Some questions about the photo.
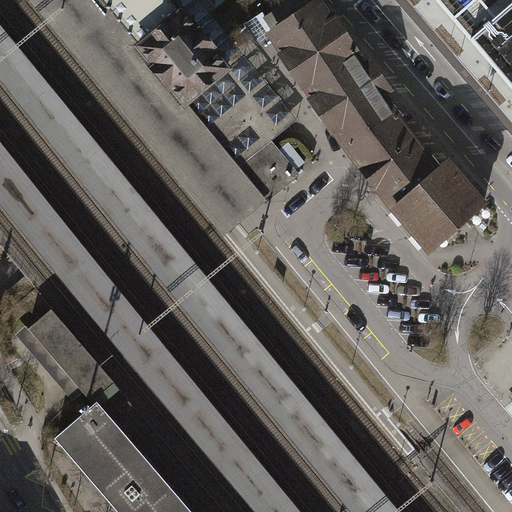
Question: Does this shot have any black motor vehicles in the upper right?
Yes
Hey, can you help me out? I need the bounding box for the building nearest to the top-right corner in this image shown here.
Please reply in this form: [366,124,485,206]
[438,0,512,91]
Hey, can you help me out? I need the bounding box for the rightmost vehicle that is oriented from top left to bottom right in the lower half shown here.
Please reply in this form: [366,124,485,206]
[346,310,364,332]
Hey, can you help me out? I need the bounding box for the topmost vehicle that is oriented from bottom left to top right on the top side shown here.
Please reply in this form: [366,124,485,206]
[309,173,330,192]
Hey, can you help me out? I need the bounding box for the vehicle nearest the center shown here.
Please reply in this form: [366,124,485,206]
[290,242,310,264]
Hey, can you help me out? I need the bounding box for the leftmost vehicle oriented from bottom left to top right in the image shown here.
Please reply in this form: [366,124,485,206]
[284,194,306,214]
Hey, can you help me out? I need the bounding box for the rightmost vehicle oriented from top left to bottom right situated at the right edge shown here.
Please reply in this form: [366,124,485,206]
[482,131,501,152]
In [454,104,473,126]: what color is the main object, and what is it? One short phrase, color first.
black car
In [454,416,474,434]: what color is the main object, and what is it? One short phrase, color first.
red car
